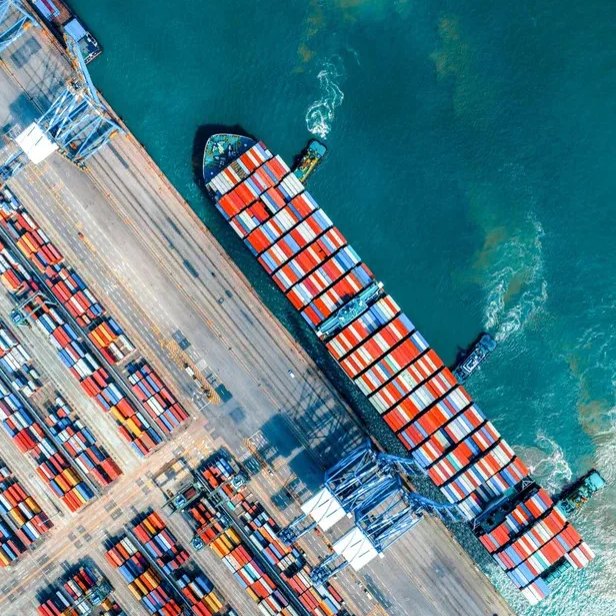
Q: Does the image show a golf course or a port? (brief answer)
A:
port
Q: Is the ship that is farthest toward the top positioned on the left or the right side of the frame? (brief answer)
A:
left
